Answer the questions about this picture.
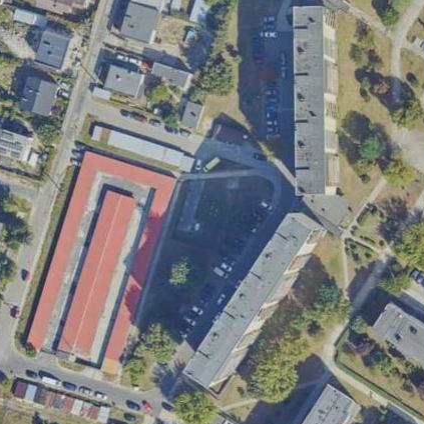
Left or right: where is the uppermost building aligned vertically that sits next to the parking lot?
right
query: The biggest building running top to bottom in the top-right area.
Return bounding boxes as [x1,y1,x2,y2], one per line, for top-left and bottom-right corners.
[293,6,335,194]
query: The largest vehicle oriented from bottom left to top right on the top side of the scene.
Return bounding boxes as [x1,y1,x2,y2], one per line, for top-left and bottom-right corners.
[201,155,220,172]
